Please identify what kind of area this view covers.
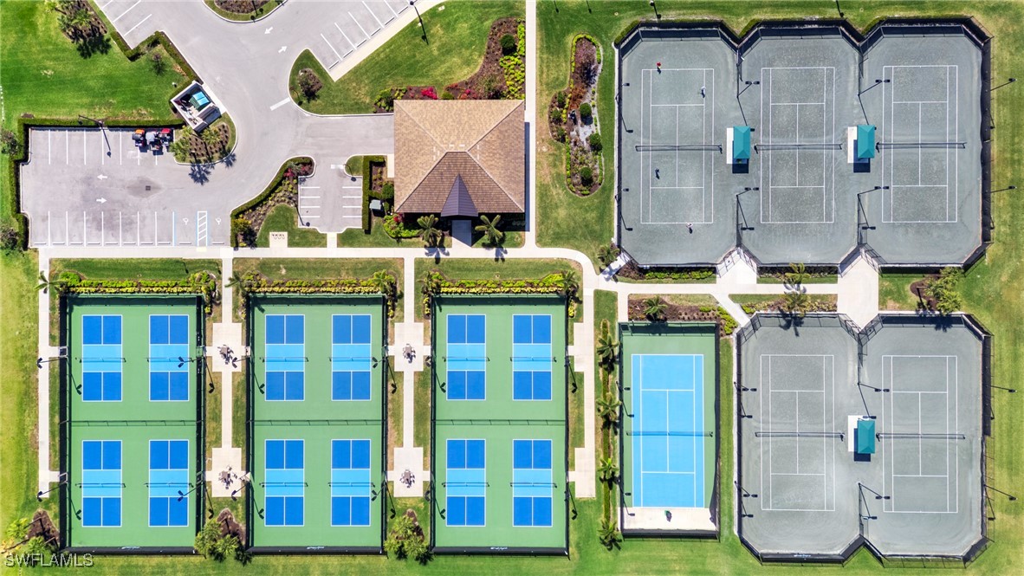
sports ground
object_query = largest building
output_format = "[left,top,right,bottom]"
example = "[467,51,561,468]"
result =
[393,98,526,217]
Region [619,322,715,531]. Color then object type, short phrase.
blue tennis court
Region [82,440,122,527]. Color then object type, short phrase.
blue sports court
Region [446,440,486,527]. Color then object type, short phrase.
blue sports court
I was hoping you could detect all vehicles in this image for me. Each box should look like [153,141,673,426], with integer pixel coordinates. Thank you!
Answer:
[161,129,173,148]
[133,129,147,148]
[146,131,160,150]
